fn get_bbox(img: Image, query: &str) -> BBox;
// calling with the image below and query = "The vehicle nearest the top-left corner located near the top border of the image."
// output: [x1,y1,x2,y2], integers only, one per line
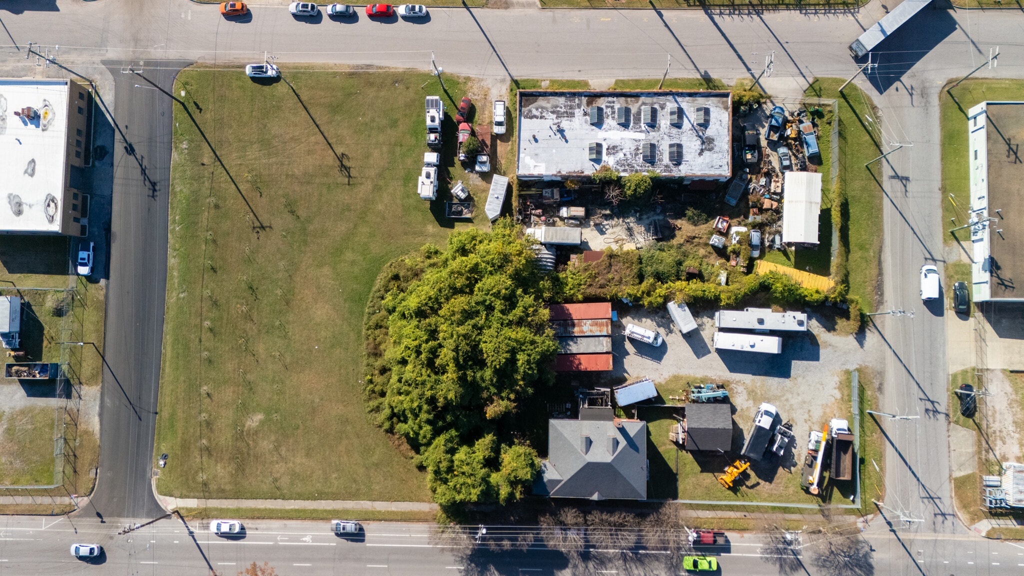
[220,1,248,16]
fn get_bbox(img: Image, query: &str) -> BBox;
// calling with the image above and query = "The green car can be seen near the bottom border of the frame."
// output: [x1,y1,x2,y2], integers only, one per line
[683,556,717,572]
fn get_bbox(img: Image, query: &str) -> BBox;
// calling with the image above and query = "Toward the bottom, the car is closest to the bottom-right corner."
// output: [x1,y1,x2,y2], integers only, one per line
[959,385,976,414]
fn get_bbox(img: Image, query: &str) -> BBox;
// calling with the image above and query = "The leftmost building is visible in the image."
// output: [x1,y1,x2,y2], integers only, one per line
[0,79,89,238]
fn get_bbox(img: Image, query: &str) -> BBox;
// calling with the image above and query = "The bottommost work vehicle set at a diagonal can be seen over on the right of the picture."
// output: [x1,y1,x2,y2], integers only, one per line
[719,458,750,487]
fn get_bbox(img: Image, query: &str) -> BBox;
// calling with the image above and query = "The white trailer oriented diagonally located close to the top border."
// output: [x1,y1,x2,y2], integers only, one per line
[853,0,930,58]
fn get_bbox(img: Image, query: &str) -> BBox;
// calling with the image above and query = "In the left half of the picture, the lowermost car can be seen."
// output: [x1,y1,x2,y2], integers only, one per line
[71,543,103,558]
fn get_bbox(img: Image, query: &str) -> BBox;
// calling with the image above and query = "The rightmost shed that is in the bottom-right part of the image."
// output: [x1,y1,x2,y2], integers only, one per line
[994,461,1024,506]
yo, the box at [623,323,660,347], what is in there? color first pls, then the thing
white vehicle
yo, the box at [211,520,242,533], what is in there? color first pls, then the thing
white vehicle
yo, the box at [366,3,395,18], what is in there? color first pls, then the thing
red car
